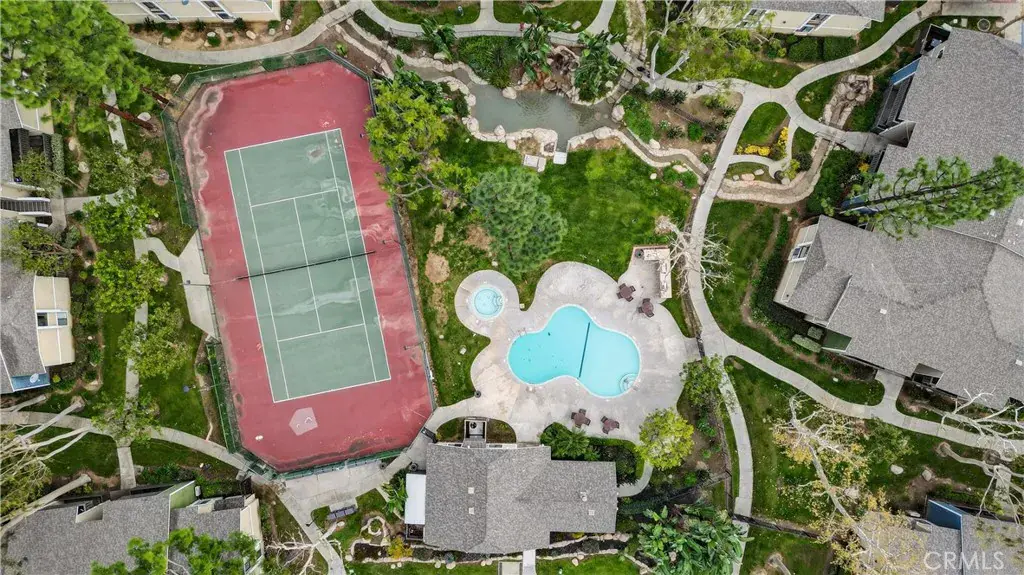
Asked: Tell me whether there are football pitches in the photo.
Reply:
No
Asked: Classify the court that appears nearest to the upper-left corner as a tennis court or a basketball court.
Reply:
tennis court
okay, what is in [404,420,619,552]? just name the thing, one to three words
building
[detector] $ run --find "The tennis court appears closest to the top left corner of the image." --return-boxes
[177,60,431,472]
